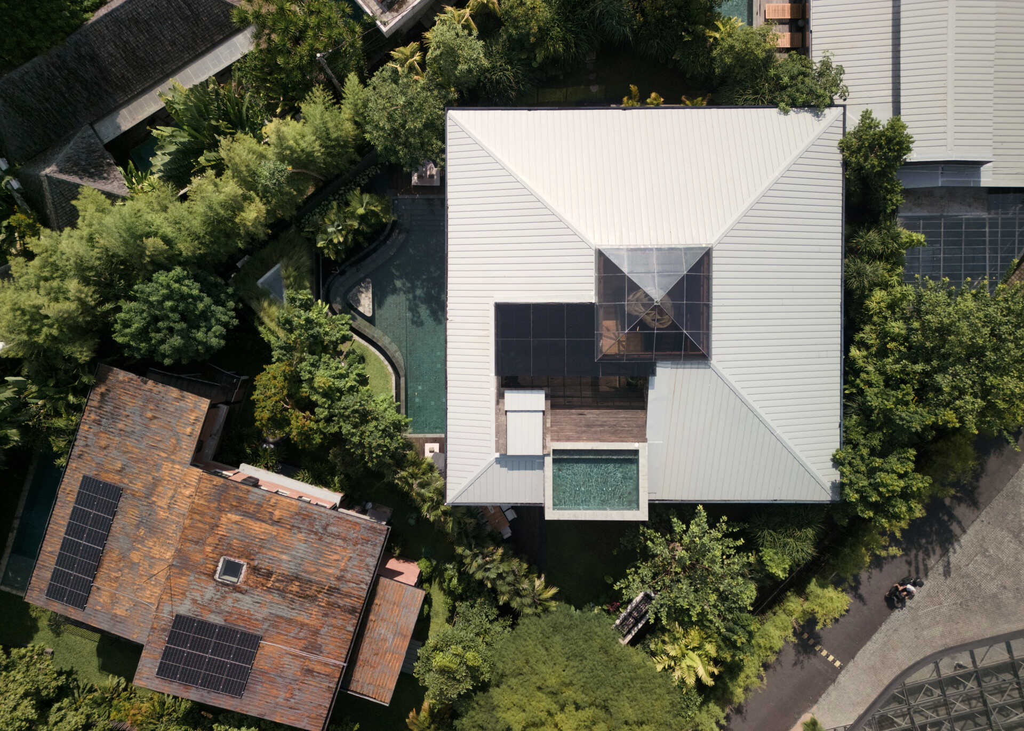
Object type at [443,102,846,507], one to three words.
house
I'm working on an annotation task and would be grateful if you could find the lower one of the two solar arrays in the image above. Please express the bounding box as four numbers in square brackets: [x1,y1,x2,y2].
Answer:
[155,615,259,698]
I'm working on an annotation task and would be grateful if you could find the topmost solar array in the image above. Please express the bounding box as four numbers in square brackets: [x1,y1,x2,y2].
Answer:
[43,472,110,611]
